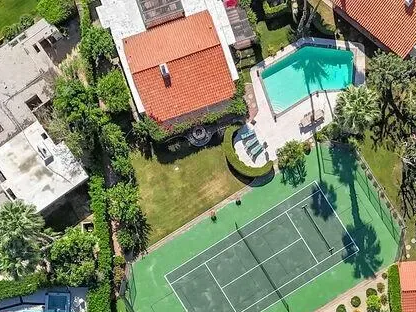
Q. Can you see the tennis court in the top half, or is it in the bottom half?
bottom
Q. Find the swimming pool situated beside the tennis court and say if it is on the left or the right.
right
